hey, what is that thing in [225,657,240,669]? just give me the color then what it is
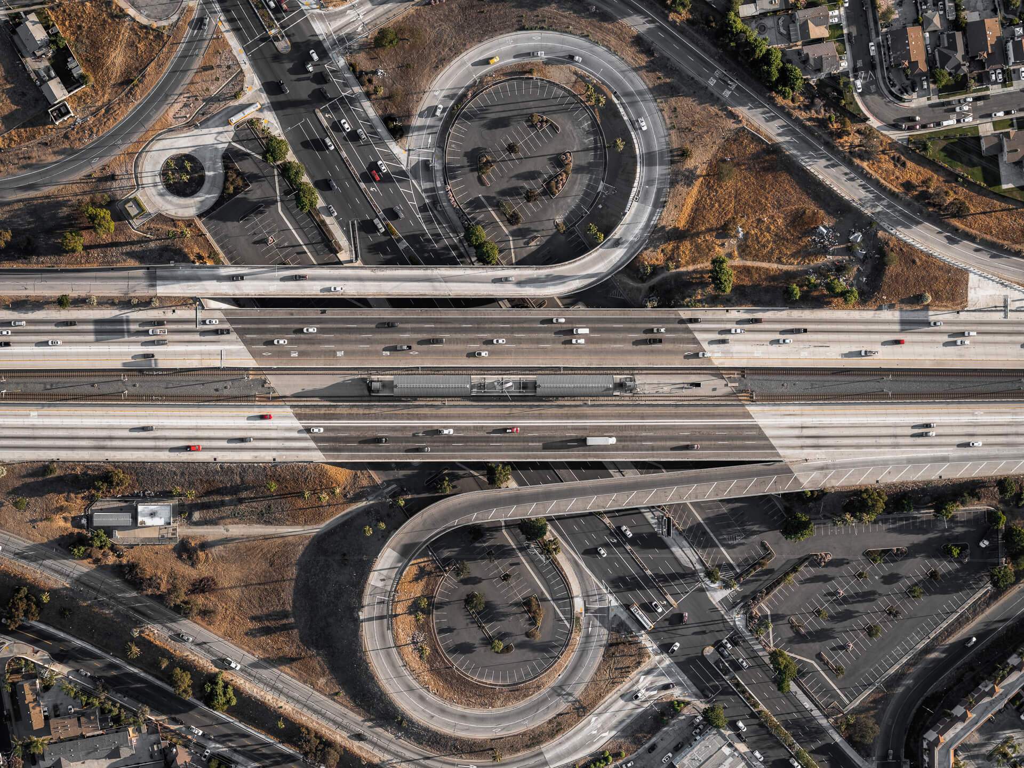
white vehicle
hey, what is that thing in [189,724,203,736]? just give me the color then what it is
white vehicle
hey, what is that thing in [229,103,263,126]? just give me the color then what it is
white bus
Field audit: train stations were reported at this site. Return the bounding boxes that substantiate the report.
[369,375,636,400]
